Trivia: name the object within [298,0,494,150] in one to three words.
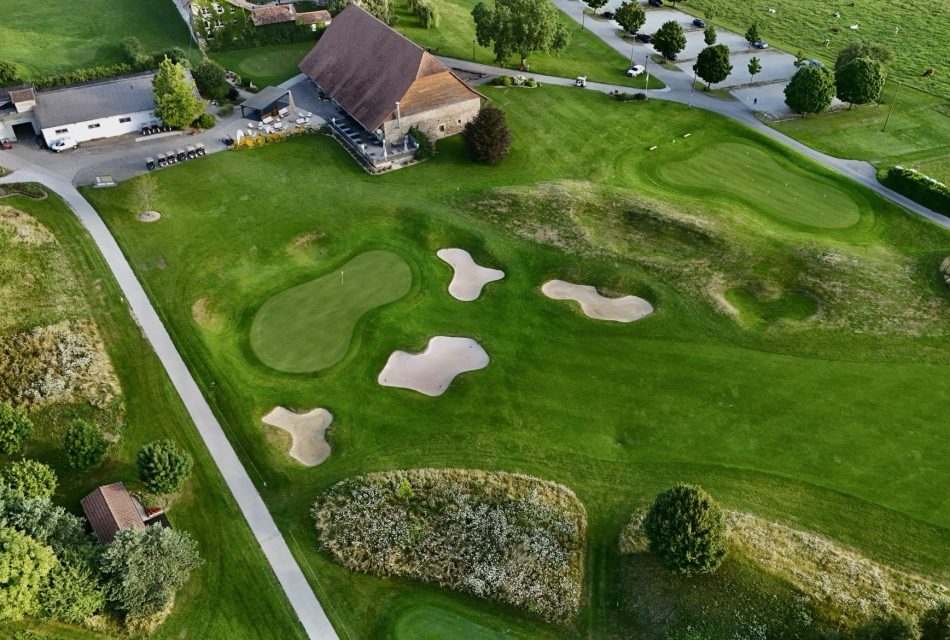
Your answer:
barn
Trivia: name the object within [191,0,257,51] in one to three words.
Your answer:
house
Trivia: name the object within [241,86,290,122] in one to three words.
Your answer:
building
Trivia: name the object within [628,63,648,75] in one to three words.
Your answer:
vehicle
